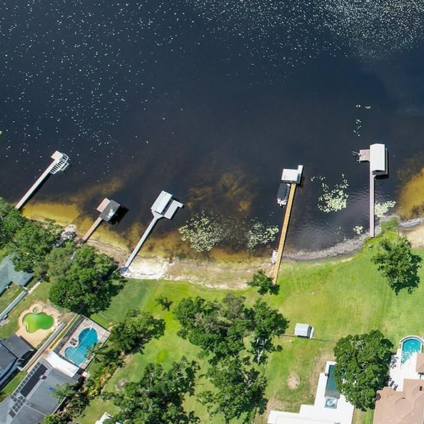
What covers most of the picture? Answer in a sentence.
What you mostly see from above here is water.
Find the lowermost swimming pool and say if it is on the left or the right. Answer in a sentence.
You can find the lowermost swimming pool on the right side of the picture.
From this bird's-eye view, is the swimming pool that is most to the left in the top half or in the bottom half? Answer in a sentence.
The bottom half of the photo is where the swimming pool that is most to the left is.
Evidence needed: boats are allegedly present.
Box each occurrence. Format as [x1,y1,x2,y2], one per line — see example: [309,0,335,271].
[277,183,290,209]
[271,251,277,263]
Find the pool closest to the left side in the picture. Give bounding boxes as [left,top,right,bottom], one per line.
[21,307,55,334]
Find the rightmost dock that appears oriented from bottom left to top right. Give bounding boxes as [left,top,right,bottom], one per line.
[123,191,185,271]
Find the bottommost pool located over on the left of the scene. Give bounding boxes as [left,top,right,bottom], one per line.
[62,326,99,365]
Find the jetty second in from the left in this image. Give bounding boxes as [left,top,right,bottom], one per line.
[80,196,131,243]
